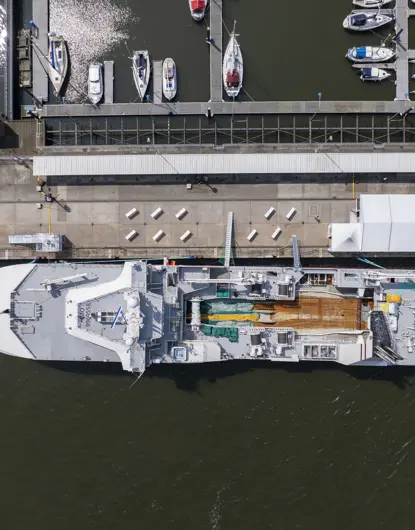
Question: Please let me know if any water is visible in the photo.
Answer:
Yes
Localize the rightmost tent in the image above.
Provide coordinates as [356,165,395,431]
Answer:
[352,194,415,252]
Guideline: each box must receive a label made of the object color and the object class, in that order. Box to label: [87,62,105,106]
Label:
white boat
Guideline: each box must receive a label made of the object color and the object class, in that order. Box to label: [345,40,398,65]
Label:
white boat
